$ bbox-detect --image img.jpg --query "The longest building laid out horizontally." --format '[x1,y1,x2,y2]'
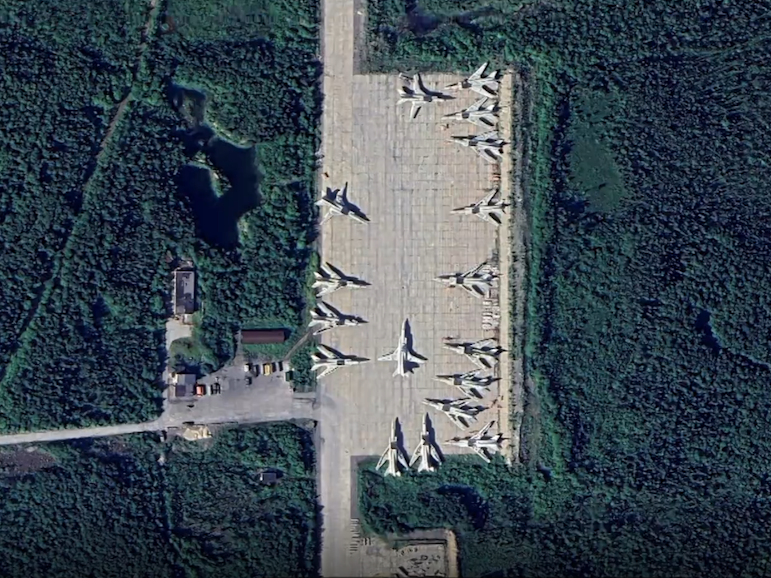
[242,330,285,343]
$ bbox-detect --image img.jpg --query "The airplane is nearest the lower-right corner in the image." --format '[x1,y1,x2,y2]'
[443,422,501,461]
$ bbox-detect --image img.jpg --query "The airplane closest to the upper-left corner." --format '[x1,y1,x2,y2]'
[317,186,367,224]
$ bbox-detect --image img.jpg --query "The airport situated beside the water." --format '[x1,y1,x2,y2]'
[316,0,513,578]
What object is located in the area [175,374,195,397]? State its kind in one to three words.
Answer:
building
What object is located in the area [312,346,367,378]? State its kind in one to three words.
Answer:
airplane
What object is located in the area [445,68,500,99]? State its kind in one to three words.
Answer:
airplane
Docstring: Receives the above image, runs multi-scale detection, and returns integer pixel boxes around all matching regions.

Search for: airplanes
[380,320,426,376]
[450,129,504,159]
[443,422,501,461]
[434,260,490,296]
[312,346,367,378]
[312,266,367,297]
[410,415,440,472]
[317,186,367,224]
[398,76,450,119]
[445,68,500,99]
[376,418,407,476]
[442,96,499,128]
[422,397,480,429]
[433,367,490,399]
[450,190,504,223]
[309,304,364,335]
